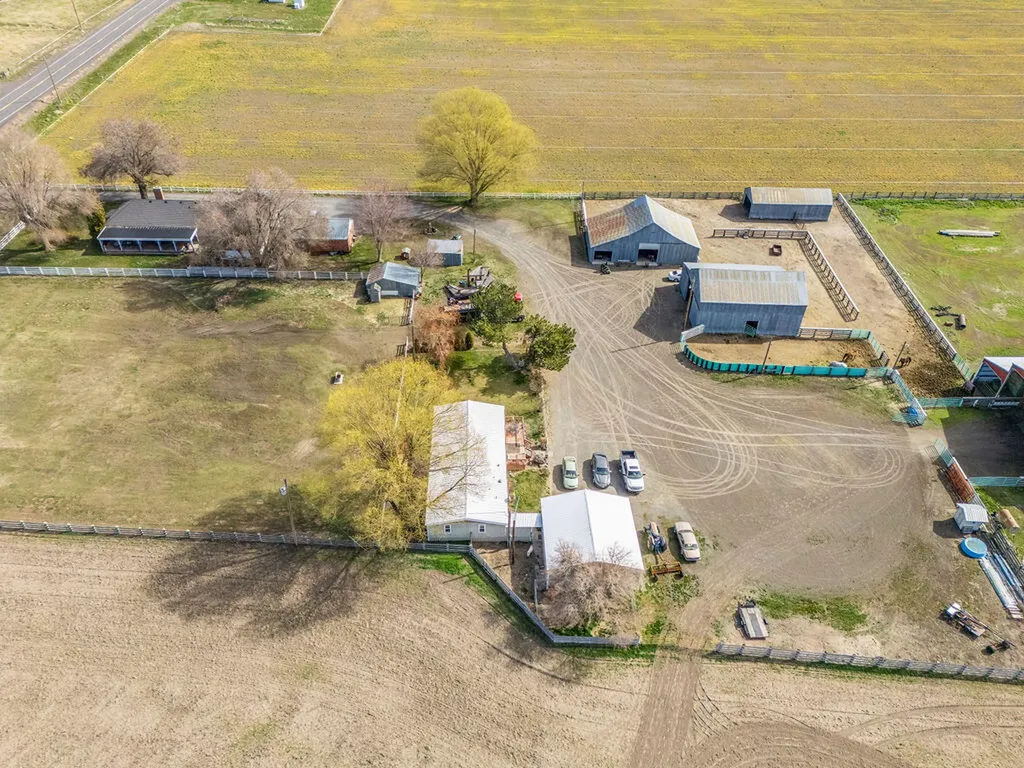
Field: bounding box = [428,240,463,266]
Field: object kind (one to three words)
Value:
shed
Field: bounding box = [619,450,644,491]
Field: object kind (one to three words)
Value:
truck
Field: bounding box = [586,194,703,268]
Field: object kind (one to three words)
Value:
barn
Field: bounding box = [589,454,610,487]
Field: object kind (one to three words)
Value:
car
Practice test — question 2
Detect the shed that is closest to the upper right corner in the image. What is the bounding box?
[739,187,832,219]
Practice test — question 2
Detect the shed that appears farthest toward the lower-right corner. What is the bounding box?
[958,504,990,532]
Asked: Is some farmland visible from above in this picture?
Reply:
Yes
